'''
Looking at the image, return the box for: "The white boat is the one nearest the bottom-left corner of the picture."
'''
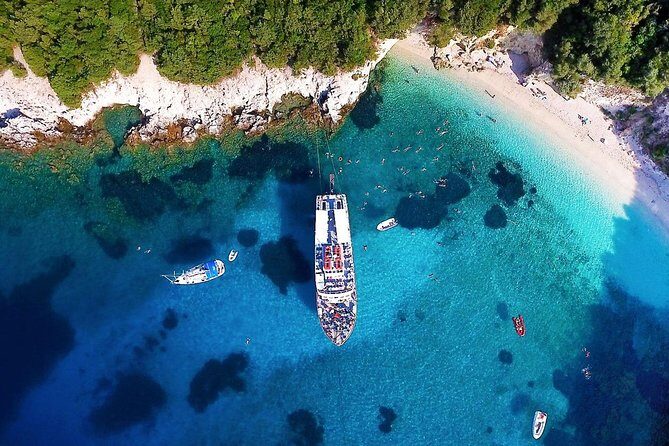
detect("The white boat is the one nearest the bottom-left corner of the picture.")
[159,259,225,284]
